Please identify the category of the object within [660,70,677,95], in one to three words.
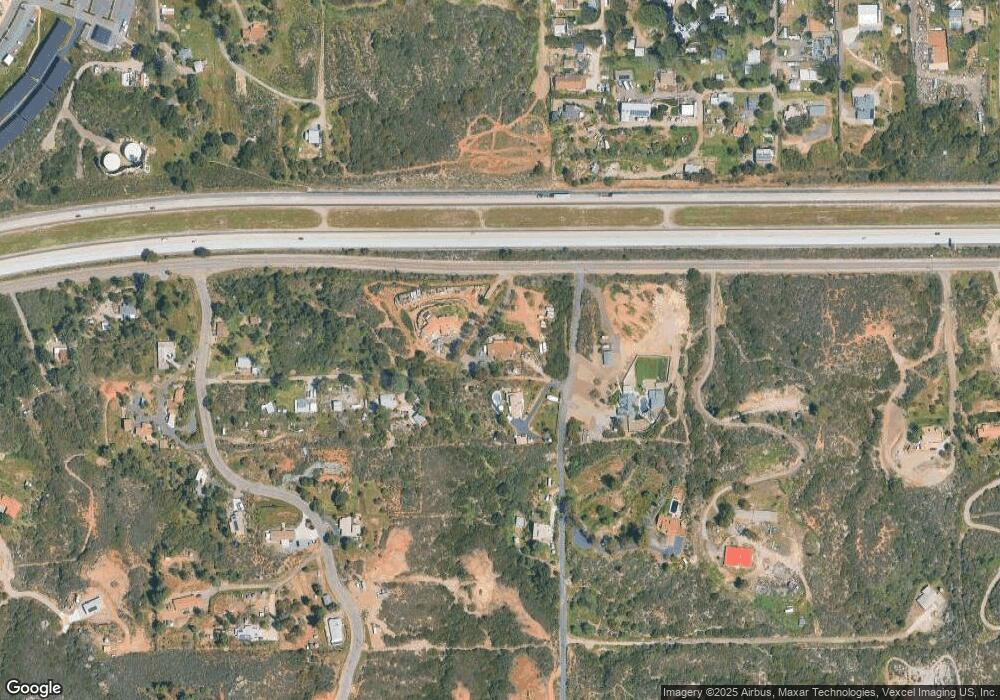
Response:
house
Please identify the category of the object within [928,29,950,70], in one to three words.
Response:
building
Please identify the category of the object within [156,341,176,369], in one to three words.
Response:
building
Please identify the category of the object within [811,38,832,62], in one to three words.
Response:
house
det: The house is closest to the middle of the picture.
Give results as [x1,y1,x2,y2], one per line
[485,337,524,358]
